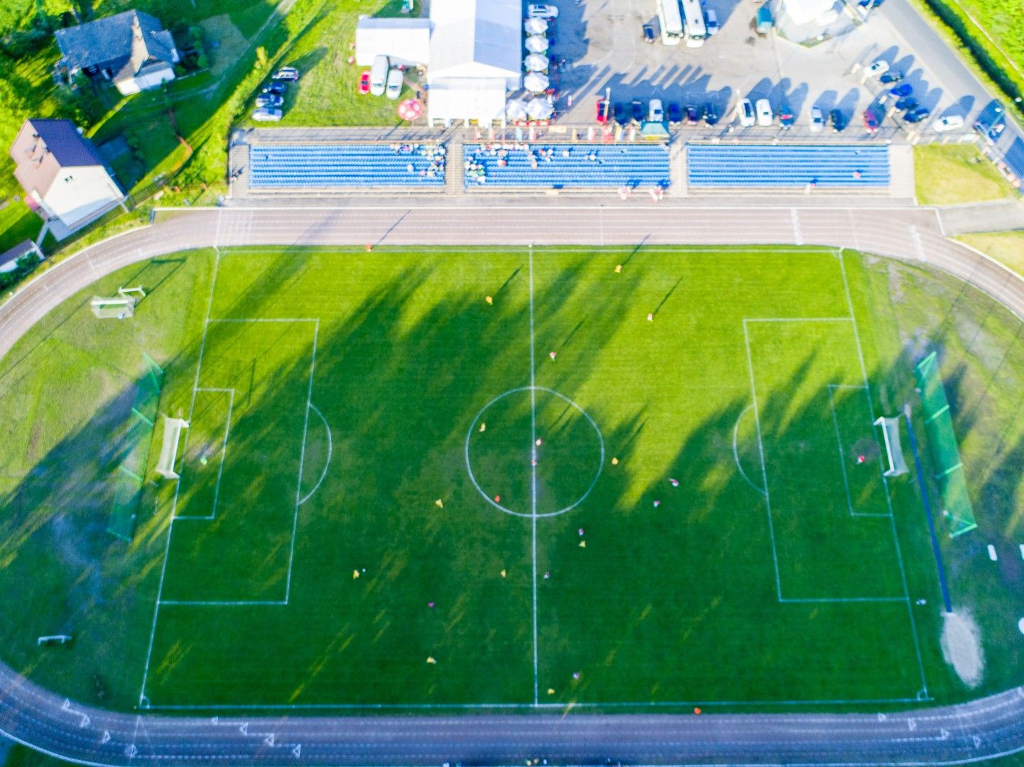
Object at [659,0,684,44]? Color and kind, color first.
white bus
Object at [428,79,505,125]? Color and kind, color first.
white tent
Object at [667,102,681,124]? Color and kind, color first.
blue car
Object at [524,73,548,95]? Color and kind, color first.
white umbrella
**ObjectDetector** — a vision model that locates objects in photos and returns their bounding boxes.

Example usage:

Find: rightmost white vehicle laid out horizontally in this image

[932,114,964,131]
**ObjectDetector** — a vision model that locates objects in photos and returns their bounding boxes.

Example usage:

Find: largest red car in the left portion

[358,73,371,95]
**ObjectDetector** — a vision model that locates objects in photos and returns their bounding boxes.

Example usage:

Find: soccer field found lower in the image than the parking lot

[116,244,957,712]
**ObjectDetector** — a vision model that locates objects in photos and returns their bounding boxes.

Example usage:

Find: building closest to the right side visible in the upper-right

[773,0,864,49]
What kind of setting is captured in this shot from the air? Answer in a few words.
sports ground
